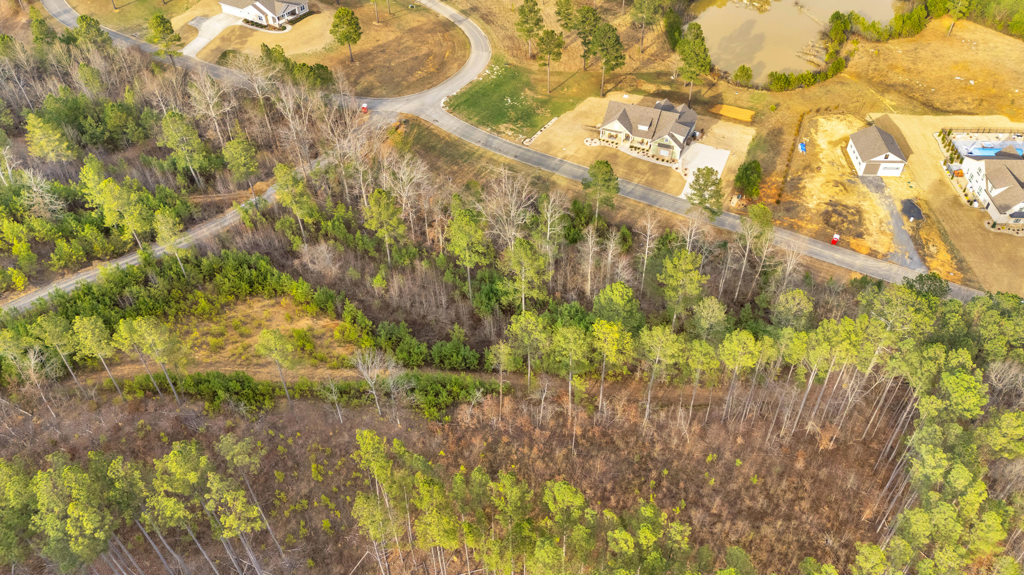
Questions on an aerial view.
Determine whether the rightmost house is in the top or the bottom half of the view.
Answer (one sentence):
The top half of the photo is where the rightmost house is.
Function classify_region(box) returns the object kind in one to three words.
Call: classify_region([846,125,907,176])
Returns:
building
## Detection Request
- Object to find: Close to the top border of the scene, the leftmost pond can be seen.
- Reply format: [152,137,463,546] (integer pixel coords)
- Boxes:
[685,0,905,83]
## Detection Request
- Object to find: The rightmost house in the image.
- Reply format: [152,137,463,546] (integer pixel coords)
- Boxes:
[956,144,1024,224]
